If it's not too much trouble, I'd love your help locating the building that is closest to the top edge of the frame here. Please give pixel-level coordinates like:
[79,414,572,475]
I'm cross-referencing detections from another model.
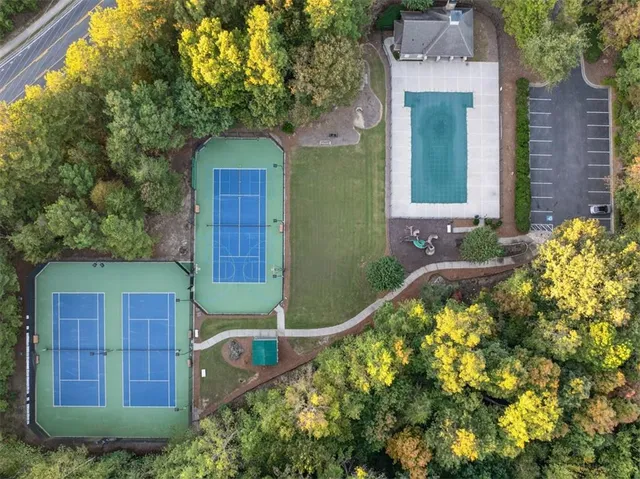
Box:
[394,0,473,63]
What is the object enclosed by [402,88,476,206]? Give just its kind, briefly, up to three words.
swimming pool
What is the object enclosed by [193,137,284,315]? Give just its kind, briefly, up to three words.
tennis court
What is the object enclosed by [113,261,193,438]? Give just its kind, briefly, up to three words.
tennis court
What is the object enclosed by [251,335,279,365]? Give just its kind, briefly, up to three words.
building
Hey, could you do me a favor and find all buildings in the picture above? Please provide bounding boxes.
[394,0,473,63]
[251,335,279,365]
